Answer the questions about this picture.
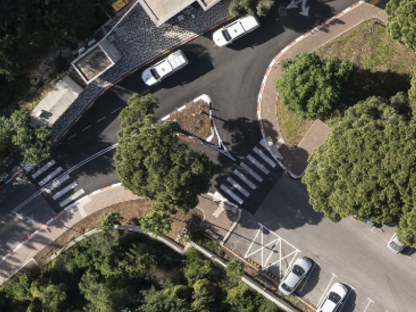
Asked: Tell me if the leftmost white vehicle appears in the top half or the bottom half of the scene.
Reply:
top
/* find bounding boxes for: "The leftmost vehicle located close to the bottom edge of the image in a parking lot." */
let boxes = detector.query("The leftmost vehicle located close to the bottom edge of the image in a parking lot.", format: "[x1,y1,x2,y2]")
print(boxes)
[278,252,313,298]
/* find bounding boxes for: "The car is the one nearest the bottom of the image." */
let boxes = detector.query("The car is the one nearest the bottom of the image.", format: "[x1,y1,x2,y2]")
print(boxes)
[316,279,349,312]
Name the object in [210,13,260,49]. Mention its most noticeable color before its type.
white vehicle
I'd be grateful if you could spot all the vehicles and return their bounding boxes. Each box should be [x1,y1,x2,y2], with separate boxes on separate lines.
[388,228,415,252]
[316,279,349,312]
[141,49,191,85]
[278,252,313,298]
[210,13,260,49]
